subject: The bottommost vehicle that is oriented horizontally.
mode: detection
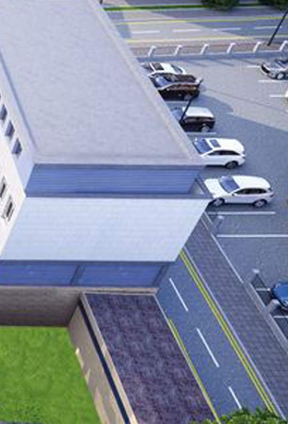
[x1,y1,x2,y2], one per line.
[210,176,288,208]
